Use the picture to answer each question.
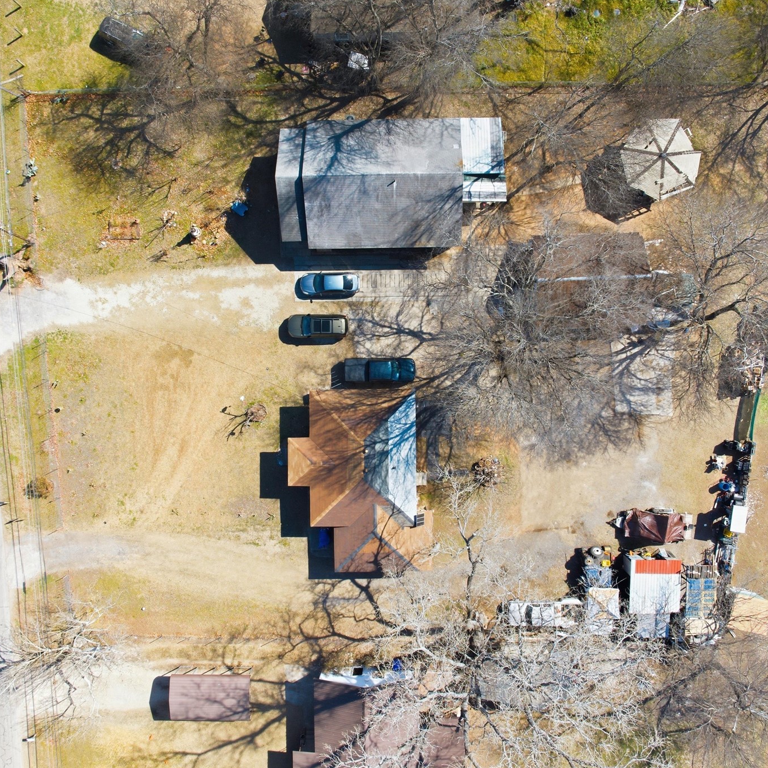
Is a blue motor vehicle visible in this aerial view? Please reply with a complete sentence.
Yes, you can see a blue motor vehicle in this photo.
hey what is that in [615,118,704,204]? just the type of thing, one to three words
gazebo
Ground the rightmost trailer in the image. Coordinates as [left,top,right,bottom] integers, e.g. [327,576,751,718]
[615,514,686,548]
